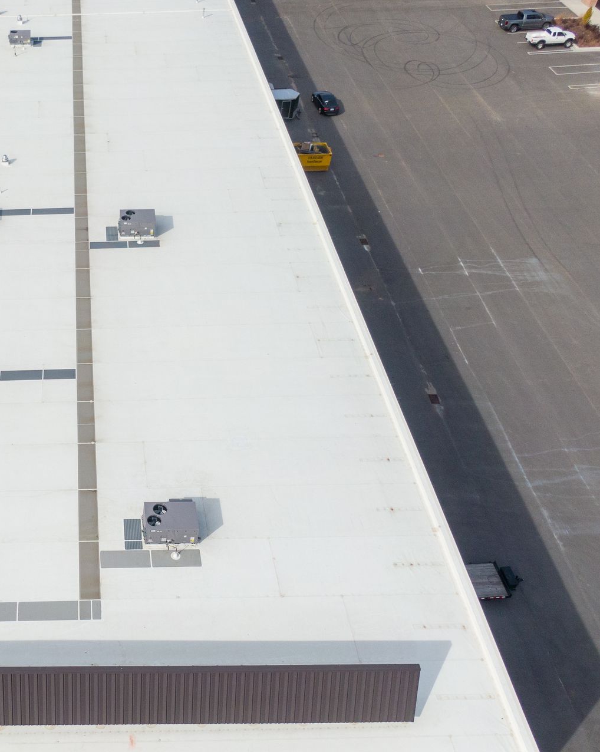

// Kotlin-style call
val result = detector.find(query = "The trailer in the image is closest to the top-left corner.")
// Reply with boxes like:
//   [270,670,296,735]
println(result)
[269,82,310,113]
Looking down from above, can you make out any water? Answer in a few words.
No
